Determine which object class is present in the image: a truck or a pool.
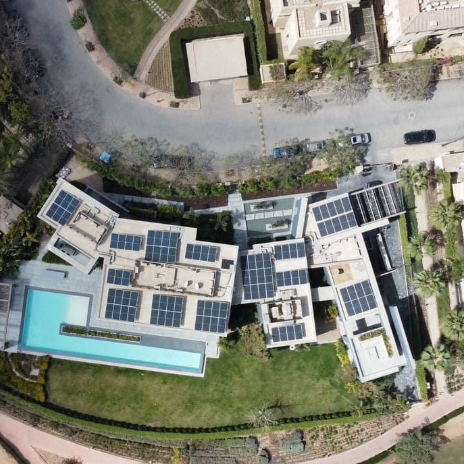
pool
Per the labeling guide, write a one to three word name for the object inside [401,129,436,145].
car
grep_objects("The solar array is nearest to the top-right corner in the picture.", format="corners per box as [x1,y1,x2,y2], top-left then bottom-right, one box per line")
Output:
[312,199,356,236]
